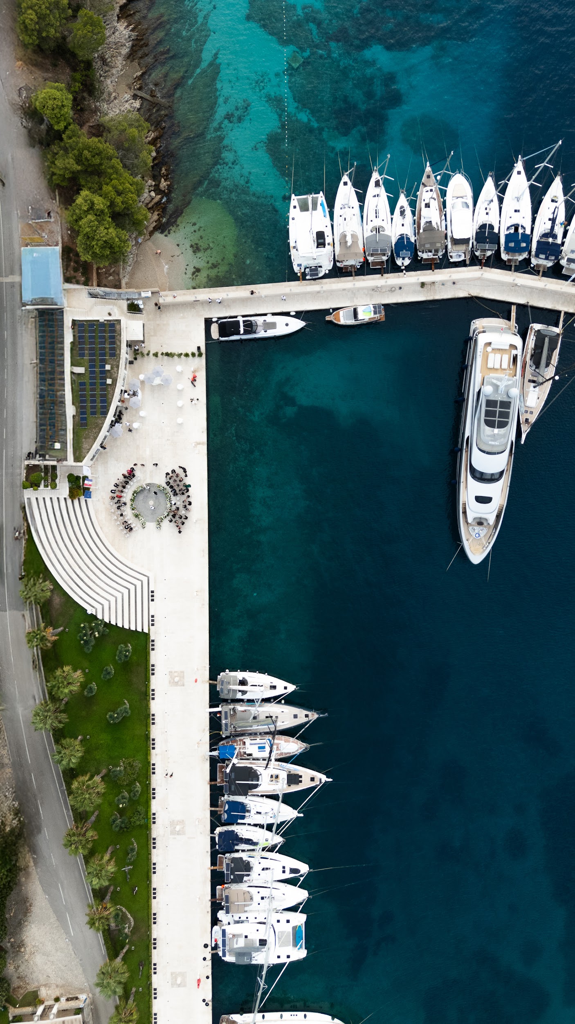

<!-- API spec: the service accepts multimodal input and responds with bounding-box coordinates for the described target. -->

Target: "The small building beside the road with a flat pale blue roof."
[21,247,69,311]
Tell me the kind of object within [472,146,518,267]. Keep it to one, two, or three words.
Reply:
boat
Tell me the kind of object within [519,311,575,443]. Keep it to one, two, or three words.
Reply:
boat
